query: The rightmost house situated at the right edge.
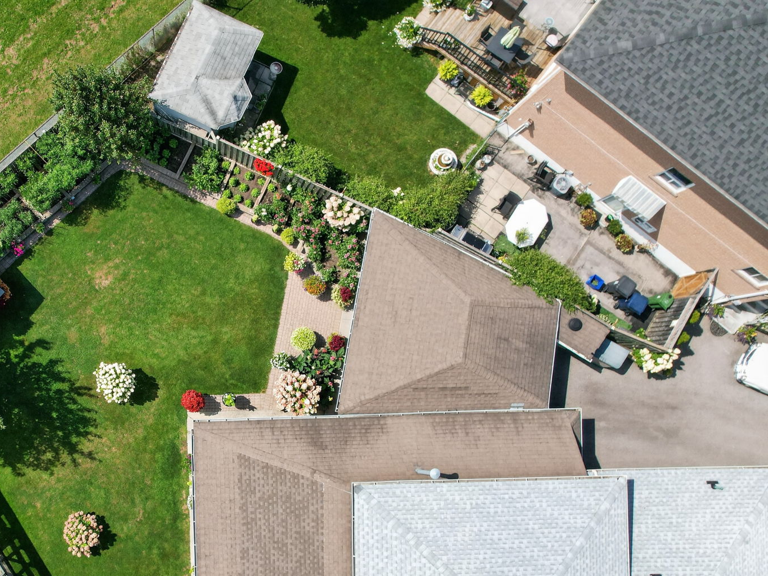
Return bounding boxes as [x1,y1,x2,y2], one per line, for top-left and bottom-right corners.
[497,0,768,327]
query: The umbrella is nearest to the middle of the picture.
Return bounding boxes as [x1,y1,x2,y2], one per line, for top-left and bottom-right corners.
[492,198,548,248]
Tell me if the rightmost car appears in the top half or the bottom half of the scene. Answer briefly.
bottom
